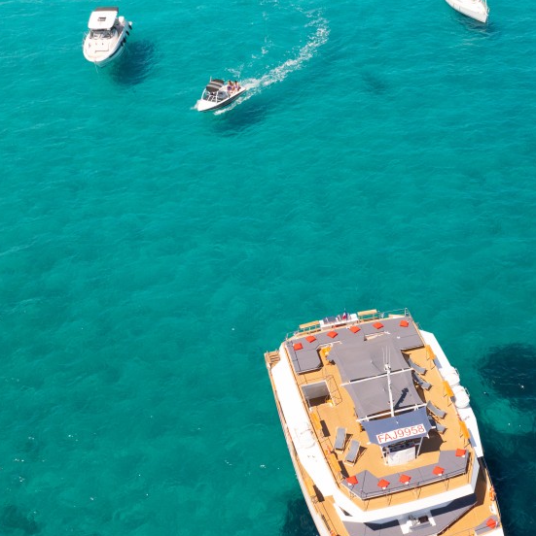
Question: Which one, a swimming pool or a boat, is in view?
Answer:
boat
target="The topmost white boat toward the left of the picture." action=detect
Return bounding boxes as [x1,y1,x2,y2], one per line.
[84,11,124,68]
